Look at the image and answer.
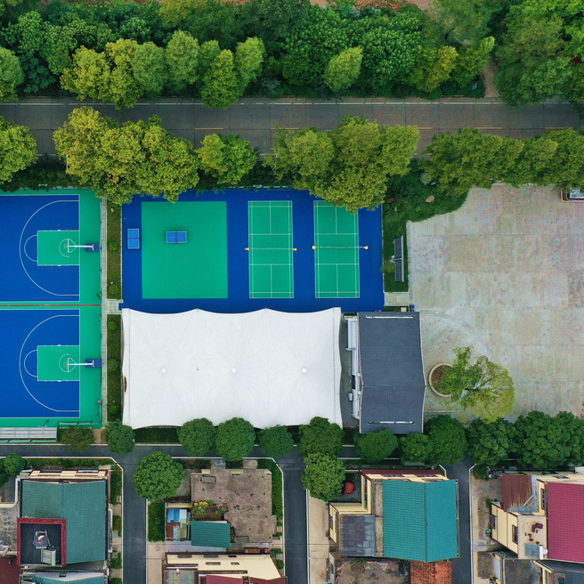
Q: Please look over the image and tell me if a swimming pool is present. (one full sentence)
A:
No, no swimming pool is visible in the scene.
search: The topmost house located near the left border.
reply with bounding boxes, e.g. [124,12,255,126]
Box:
[0,469,112,566]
